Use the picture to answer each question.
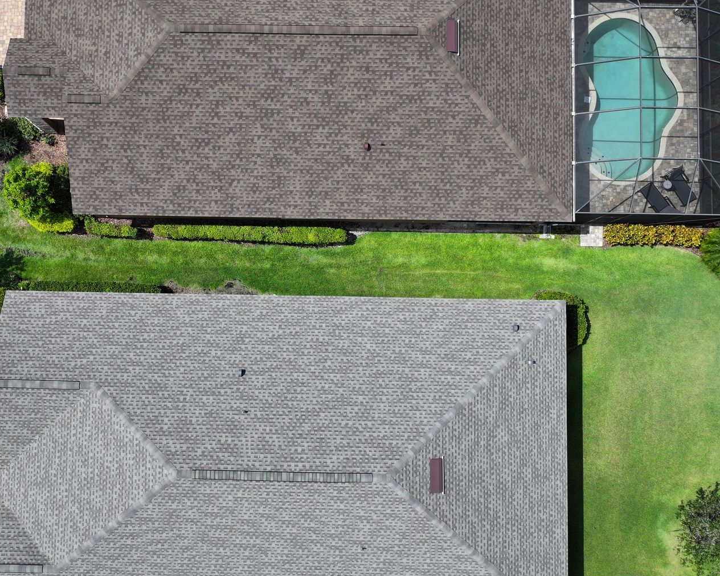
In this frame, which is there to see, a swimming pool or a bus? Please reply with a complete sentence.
There is a swimming pool in the scene.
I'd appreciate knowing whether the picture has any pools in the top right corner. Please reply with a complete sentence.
Yes, looking in the top right corner, one can make out a pool.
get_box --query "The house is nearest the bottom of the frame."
[0,291,568,576]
